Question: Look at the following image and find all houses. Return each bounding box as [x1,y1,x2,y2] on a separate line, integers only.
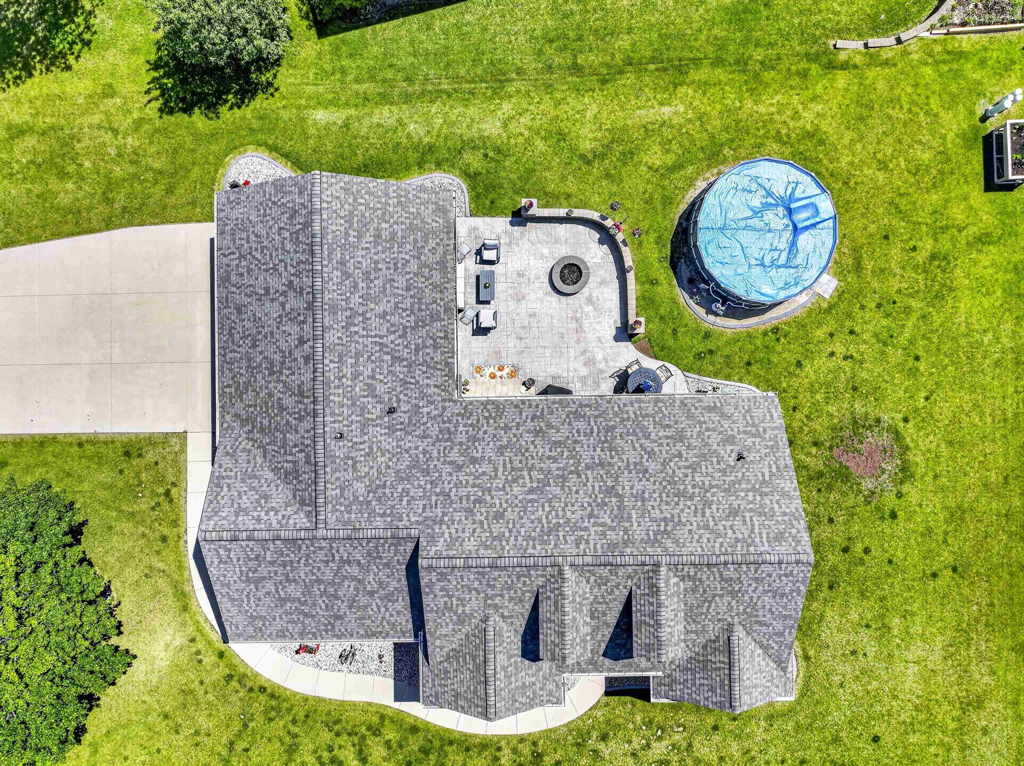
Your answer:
[197,170,814,723]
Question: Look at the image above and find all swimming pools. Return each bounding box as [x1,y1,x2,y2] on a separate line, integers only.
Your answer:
[684,156,838,311]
